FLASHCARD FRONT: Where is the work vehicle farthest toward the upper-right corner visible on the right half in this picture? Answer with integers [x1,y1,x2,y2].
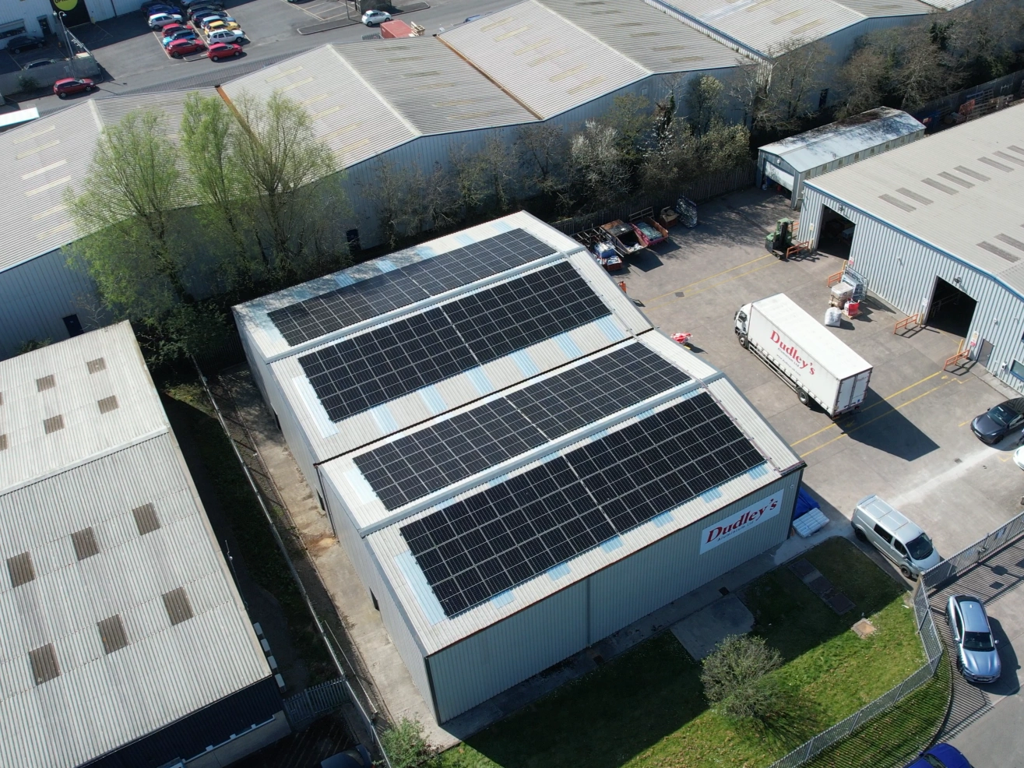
[758,215,799,258]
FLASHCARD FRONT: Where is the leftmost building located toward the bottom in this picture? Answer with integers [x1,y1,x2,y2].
[0,320,291,768]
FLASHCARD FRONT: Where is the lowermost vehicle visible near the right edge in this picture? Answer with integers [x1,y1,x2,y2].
[914,740,978,768]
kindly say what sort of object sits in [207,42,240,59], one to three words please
car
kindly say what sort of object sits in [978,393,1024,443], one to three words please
car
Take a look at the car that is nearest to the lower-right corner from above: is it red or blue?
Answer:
blue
